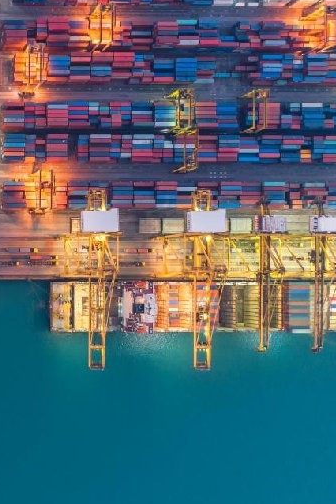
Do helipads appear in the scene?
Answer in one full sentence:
No, no helipad can be seen from above.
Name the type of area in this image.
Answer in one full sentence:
What you see here is a port.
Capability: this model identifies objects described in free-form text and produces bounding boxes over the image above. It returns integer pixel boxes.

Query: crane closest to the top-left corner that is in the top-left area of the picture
[21,46,45,97]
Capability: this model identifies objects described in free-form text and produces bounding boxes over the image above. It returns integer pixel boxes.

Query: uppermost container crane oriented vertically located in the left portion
[92,0,116,53]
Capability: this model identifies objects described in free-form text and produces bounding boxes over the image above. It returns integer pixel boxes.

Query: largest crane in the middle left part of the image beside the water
[55,188,122,369]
